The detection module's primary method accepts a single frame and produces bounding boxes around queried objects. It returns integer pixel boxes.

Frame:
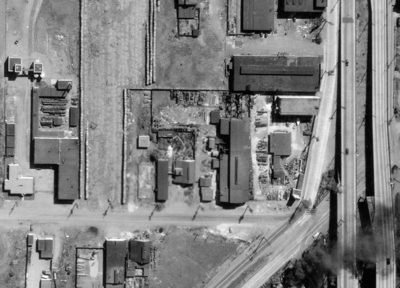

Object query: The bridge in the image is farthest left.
[335,0,359,288]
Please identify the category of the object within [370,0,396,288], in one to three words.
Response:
bridge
